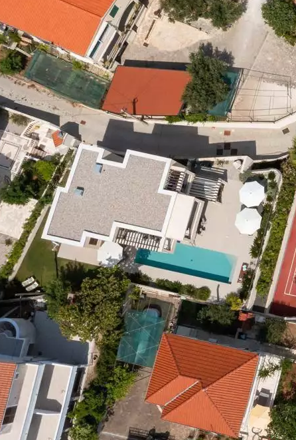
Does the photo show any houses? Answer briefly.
Yes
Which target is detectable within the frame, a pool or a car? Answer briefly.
pool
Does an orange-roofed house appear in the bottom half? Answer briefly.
Yes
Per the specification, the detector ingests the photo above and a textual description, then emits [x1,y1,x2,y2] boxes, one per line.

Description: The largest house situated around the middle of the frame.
[42,144,230,254]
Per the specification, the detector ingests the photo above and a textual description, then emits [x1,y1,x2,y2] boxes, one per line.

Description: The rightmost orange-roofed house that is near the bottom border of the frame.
[144,333,264,440]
